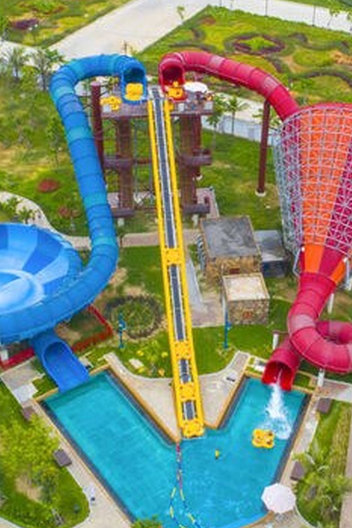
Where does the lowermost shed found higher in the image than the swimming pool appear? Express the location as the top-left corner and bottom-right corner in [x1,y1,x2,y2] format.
[223,272,268,319]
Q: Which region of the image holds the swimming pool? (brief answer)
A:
bottom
